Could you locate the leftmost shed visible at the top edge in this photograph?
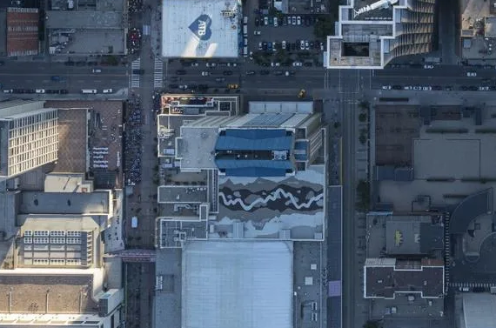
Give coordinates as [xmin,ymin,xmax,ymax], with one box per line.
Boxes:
[7,8,44,55]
